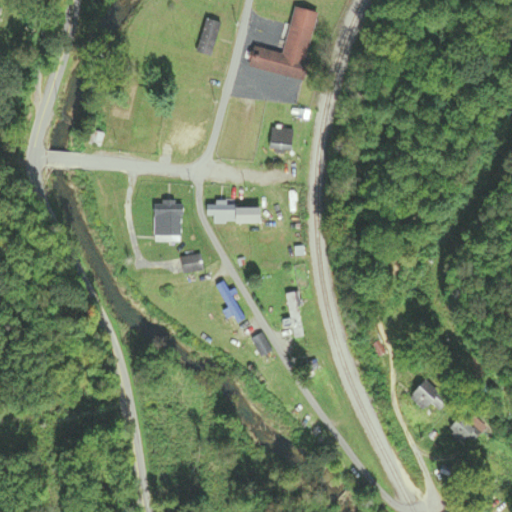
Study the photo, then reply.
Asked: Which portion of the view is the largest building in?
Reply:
top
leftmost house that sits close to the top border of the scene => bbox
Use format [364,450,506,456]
[196,17,220,54]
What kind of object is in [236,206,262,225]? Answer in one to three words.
building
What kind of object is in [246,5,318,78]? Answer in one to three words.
building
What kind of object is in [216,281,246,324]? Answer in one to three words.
house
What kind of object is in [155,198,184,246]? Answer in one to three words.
house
